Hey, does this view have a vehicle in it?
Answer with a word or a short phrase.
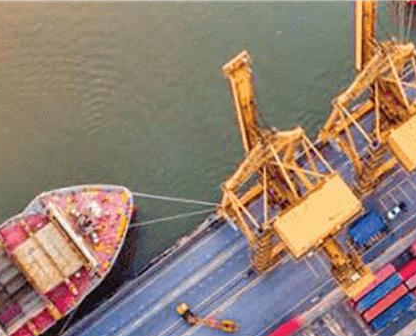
Yes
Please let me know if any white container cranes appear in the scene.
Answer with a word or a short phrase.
No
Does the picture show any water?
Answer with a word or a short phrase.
Yes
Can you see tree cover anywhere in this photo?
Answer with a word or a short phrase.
No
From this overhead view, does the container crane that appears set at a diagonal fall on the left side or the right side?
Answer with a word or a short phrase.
right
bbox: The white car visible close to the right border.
[385,205,401,220]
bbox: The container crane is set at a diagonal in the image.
[211,37,381,299]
